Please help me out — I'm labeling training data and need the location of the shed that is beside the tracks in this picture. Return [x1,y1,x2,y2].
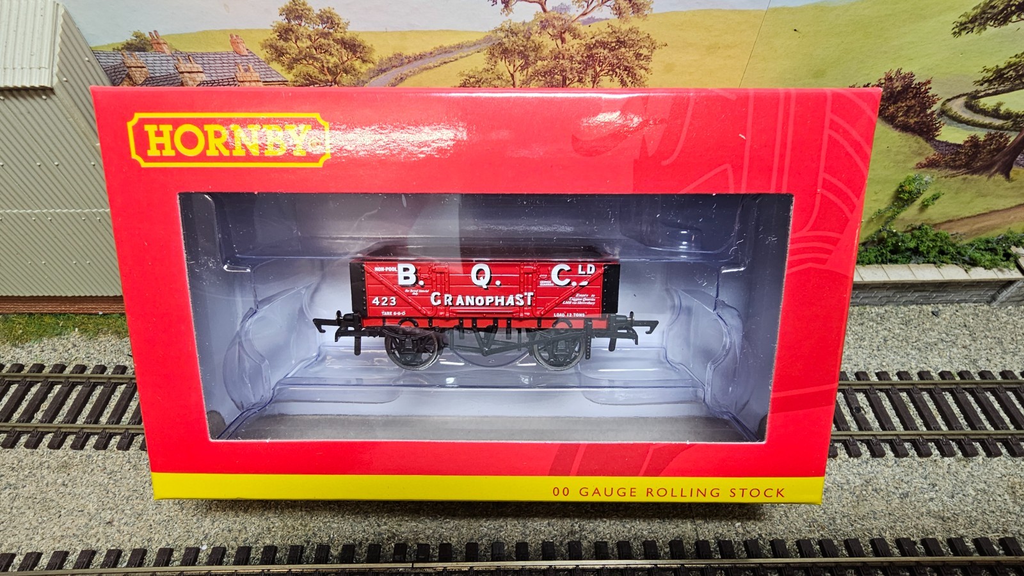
[0,0,127,313]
